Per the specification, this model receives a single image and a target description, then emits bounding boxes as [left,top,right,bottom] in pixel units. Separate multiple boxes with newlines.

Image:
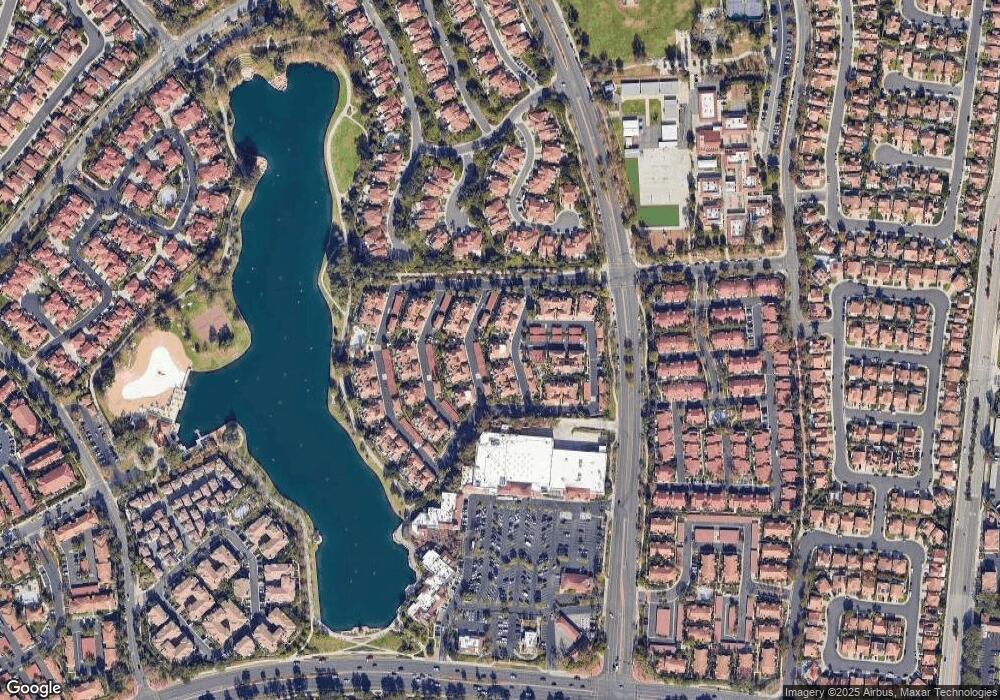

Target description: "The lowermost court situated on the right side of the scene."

[640,148,688,205]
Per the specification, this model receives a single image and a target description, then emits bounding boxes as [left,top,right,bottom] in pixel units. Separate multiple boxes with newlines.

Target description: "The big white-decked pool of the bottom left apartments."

[16,576,40,602]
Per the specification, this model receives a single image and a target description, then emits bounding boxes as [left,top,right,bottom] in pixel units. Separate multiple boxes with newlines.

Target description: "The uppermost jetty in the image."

[146,367,190,423]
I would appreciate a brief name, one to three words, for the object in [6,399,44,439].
building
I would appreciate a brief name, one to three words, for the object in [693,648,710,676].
building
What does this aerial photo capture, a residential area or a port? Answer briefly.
residential area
